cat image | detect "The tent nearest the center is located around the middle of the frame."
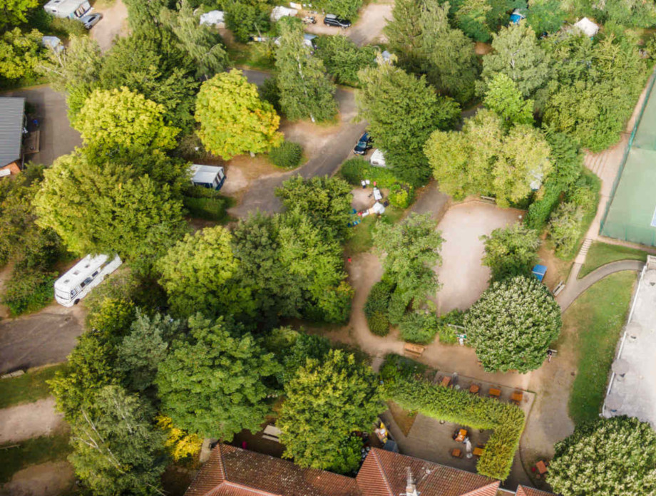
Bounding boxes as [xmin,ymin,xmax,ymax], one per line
[363,192,388,216]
